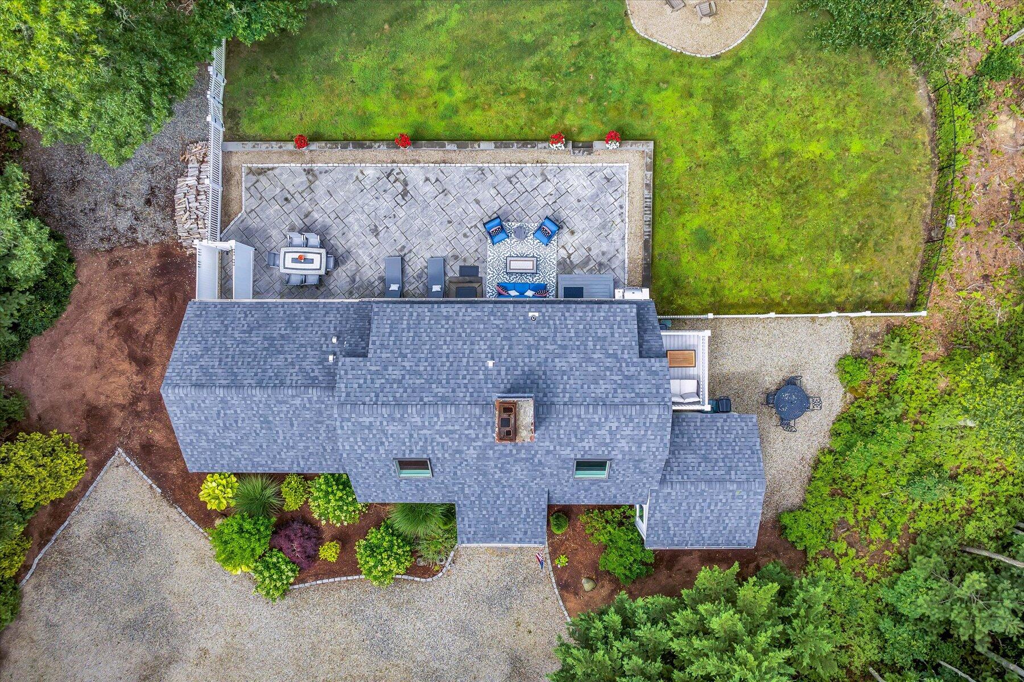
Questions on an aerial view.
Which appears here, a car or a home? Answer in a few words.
home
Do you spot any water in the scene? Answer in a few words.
No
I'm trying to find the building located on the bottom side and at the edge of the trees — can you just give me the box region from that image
[161,297,766,552]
